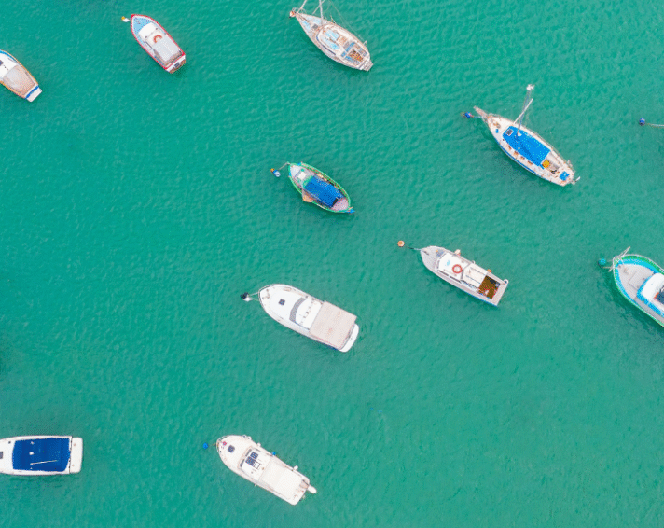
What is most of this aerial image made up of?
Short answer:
water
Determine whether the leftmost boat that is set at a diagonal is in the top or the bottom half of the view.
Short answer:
top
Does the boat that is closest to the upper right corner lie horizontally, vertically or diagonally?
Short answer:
diagonally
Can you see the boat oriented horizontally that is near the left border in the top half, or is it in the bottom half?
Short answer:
bottom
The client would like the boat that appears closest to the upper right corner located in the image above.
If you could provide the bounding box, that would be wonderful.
[474,85,582,190]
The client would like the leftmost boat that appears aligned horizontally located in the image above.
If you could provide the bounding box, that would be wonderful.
[0,435,84,475]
